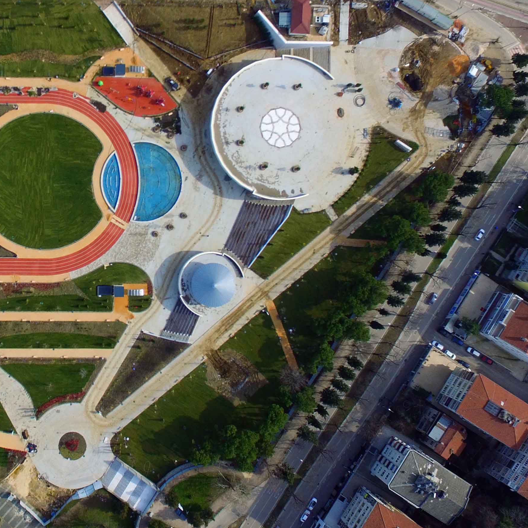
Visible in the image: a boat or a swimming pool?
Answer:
swimming pool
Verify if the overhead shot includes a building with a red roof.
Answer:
Yes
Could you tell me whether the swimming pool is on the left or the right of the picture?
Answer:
left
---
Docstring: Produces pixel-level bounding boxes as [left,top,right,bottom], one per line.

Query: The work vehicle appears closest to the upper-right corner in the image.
[481,55,496,73]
